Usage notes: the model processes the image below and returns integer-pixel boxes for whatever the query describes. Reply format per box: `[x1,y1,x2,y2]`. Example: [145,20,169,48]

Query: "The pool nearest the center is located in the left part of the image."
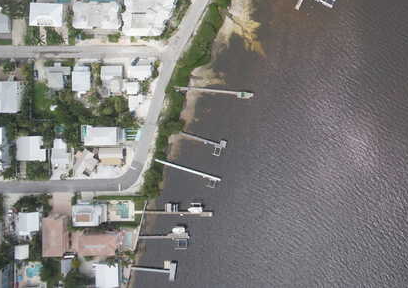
[124,127,141,142]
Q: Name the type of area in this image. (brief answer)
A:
residential area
